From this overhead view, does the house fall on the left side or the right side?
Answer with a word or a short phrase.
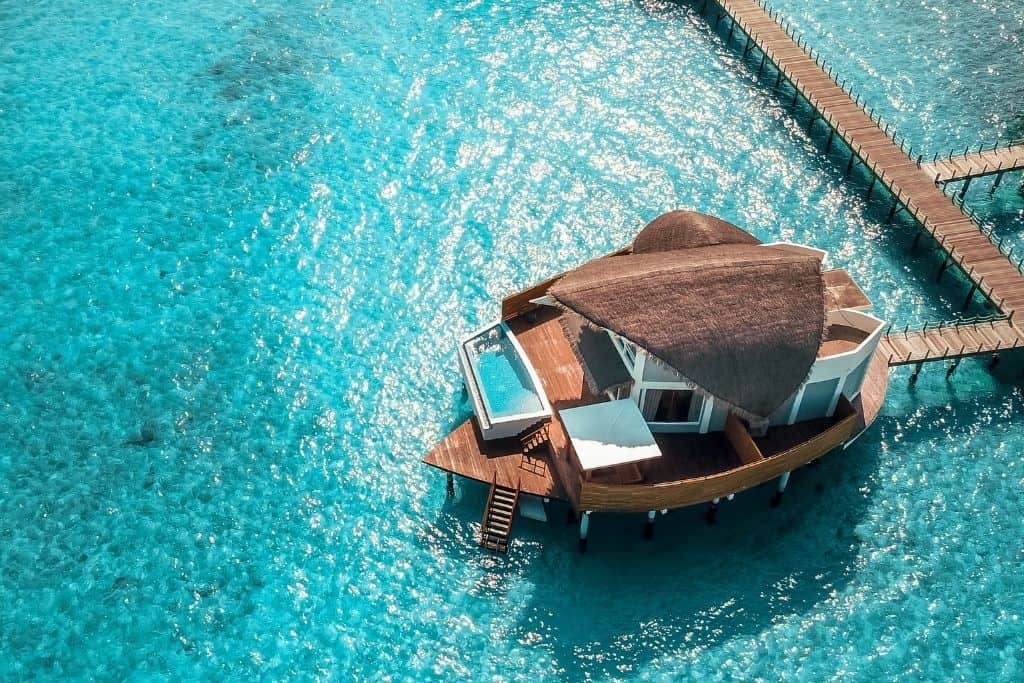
right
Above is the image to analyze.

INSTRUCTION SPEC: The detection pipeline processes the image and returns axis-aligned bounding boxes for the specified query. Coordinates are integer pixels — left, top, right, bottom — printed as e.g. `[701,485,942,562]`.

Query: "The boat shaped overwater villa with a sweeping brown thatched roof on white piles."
[503,209,890,547]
